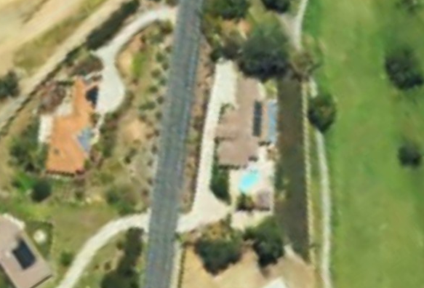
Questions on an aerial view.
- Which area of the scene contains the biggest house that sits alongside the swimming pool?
center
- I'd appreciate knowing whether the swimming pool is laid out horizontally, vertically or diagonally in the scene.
diagonally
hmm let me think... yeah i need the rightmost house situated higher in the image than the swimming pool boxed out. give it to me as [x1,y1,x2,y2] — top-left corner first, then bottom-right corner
[216,76,277,167]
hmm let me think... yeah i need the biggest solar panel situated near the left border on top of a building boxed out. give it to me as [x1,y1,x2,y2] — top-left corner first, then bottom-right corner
[10,239,35,269]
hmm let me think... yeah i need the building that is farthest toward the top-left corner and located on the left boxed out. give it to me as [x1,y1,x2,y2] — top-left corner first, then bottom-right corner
[49,74,101,174]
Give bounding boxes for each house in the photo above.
[0,215,51,288]
[216,76,277,167]
[49,74,101,174]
